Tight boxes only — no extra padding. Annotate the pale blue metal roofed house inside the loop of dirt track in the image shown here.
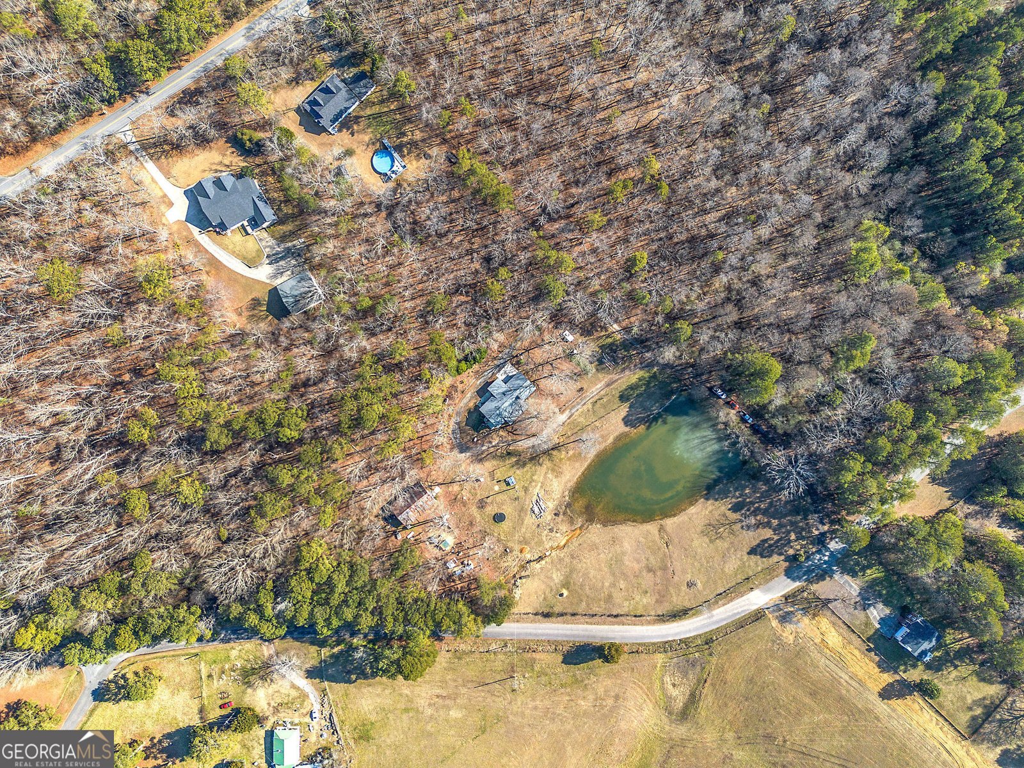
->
[478,362,536,428]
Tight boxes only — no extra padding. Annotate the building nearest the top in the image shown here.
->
[296,71,375,138]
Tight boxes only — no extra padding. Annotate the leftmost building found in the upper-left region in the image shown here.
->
[191,172,276,234]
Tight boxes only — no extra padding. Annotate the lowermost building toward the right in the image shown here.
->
[894,609,942,662]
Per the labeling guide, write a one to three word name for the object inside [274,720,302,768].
house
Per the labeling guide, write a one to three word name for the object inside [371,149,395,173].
swimming pool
